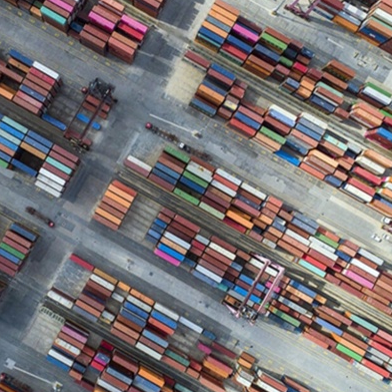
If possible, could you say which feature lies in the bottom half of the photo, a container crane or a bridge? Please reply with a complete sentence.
The feature located in the bottom half of the photo is a container crane.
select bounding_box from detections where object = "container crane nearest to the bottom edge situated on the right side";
[222,249,287,329]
